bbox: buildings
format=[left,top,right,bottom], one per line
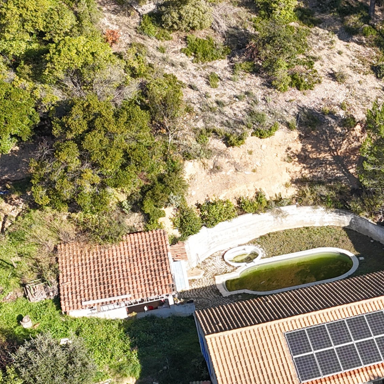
[194,270,384,384]
[55,229,179,330]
